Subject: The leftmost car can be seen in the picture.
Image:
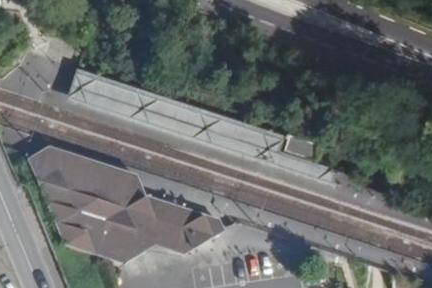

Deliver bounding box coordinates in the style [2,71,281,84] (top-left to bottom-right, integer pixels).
[0,274,15,288]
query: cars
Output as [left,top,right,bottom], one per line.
[34,269,49,288]
[249,255,260,278]
[0,274,15,288]
[262,254,273,276]
[235,256,246,278]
